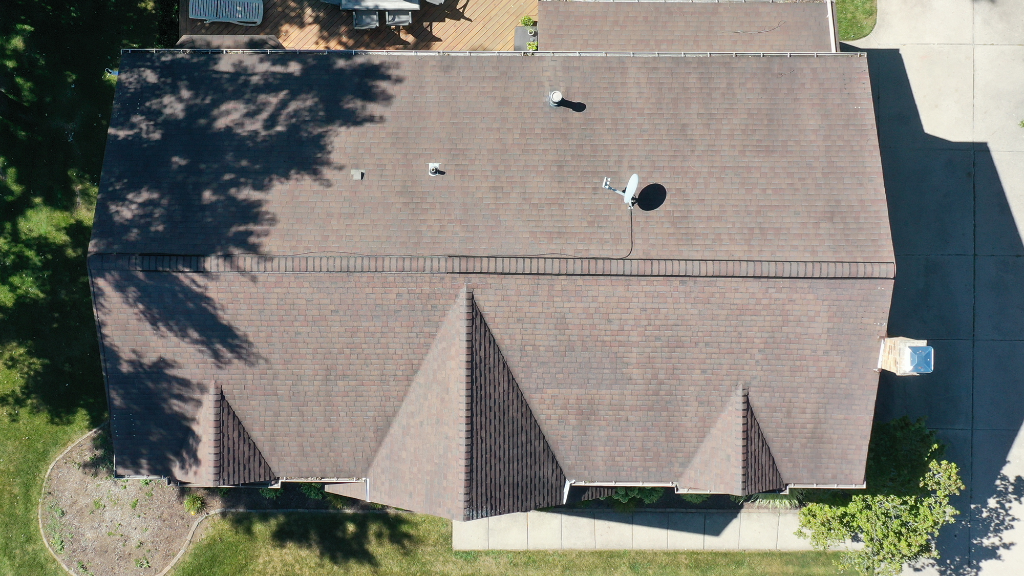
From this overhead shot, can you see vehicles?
No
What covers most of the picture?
buildings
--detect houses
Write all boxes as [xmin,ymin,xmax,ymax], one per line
[88,0,933,522]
